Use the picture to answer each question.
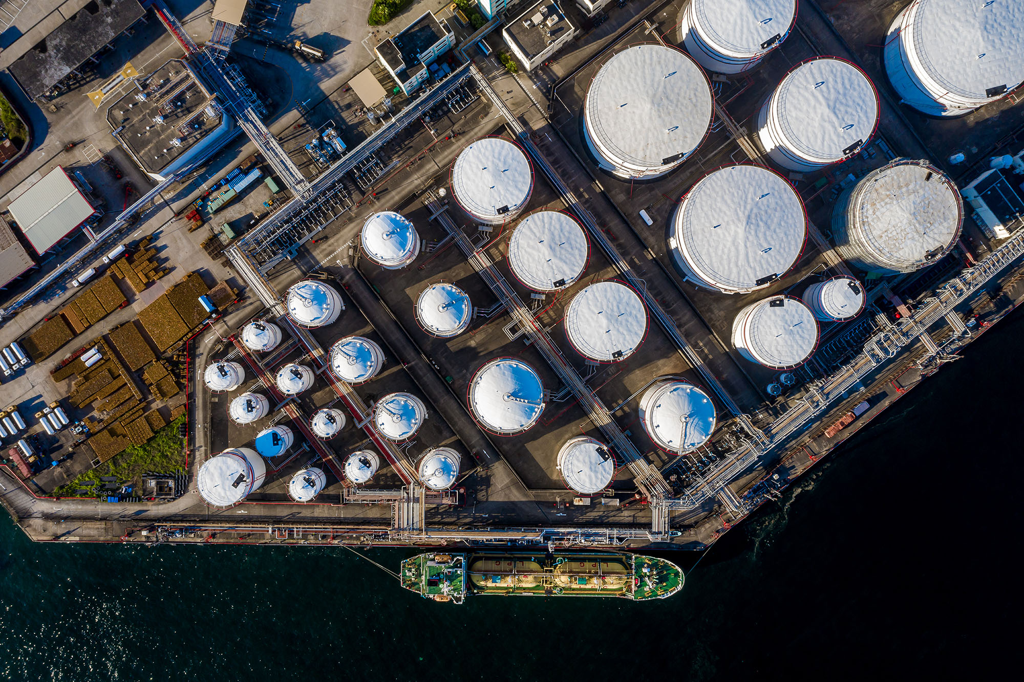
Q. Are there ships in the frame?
Yes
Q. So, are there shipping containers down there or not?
Yes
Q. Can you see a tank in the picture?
Yes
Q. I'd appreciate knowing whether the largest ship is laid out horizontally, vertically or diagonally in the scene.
horizontally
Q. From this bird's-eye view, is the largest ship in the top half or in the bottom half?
bottom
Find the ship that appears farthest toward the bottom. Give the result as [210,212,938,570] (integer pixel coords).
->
[401,550,685,605]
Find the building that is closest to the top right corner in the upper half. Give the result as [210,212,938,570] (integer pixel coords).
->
[961,170,1024,240]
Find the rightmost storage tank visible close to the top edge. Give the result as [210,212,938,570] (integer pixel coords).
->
[866,0,1024,123]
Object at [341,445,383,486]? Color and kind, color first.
white storage tank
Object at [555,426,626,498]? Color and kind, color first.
white storage tank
